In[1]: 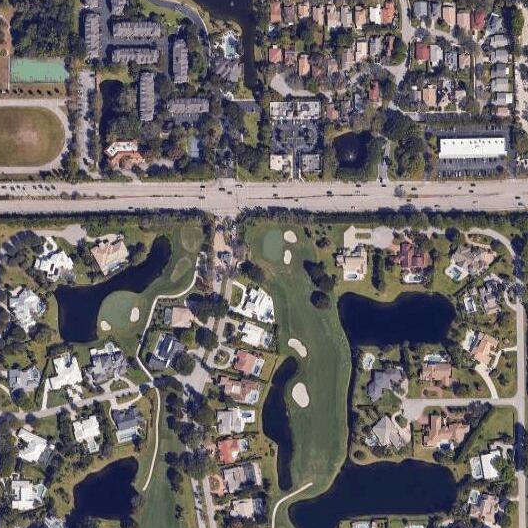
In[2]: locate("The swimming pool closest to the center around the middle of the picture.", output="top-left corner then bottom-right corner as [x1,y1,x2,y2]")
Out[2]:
[258,307,277,325]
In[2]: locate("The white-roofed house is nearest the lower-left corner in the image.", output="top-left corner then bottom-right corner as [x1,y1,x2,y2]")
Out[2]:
[11,481,32,509]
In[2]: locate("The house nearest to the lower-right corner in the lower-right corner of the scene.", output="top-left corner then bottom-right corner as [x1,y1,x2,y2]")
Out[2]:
[469,498,500,518]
